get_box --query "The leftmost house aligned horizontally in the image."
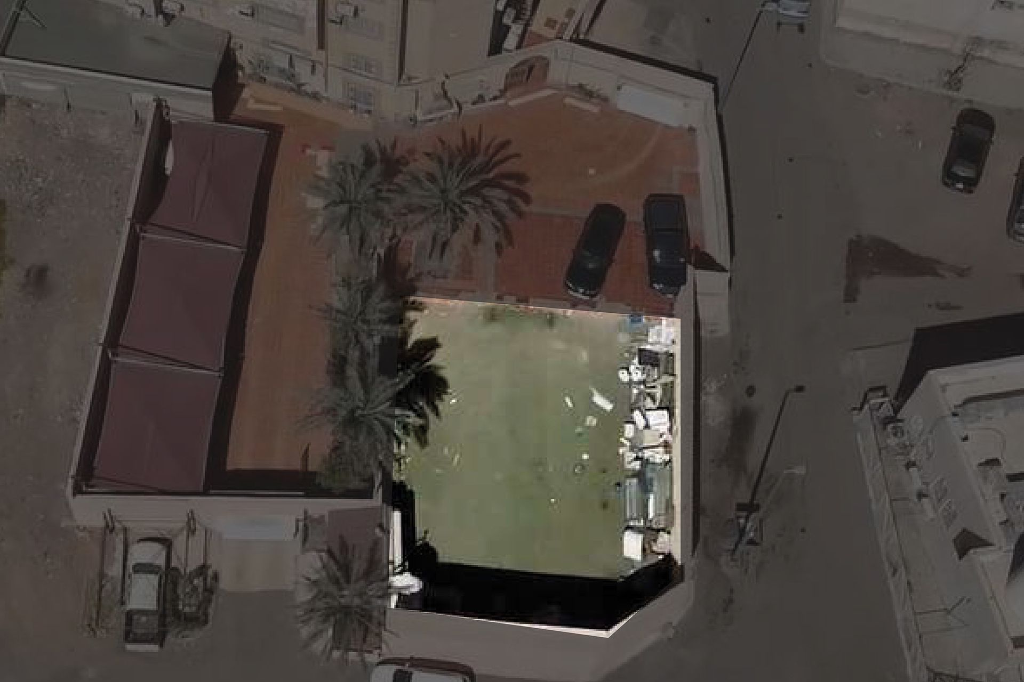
[0,0,232,124]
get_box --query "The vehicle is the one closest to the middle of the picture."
[567,205,627,298]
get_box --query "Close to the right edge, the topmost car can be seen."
[942,108,992,190]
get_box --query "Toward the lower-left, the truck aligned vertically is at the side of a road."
[123,539,168,656]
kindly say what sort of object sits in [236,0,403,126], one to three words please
house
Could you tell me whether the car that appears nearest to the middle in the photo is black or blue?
black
